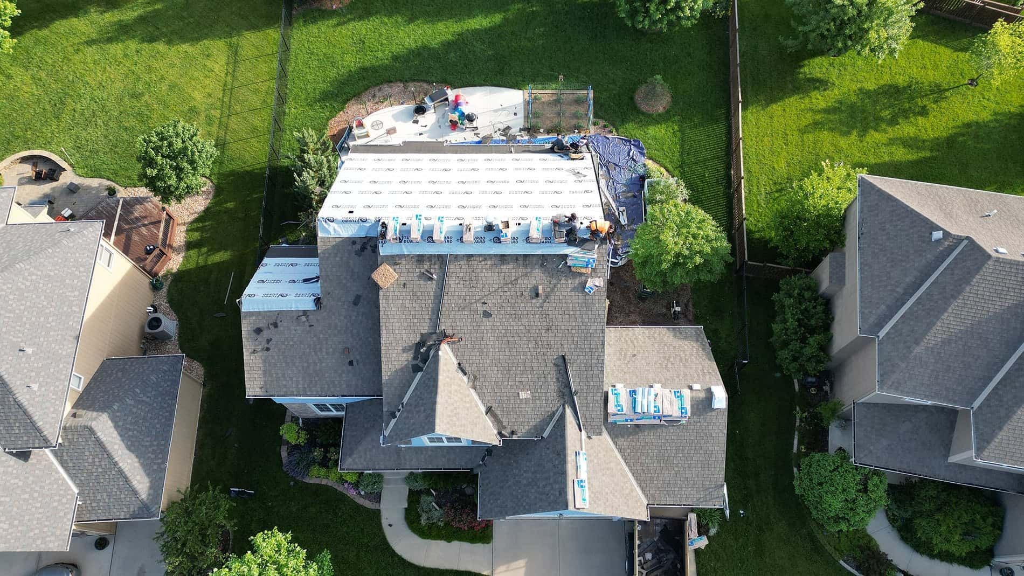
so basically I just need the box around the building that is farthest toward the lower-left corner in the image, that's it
[0,186,207,552]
